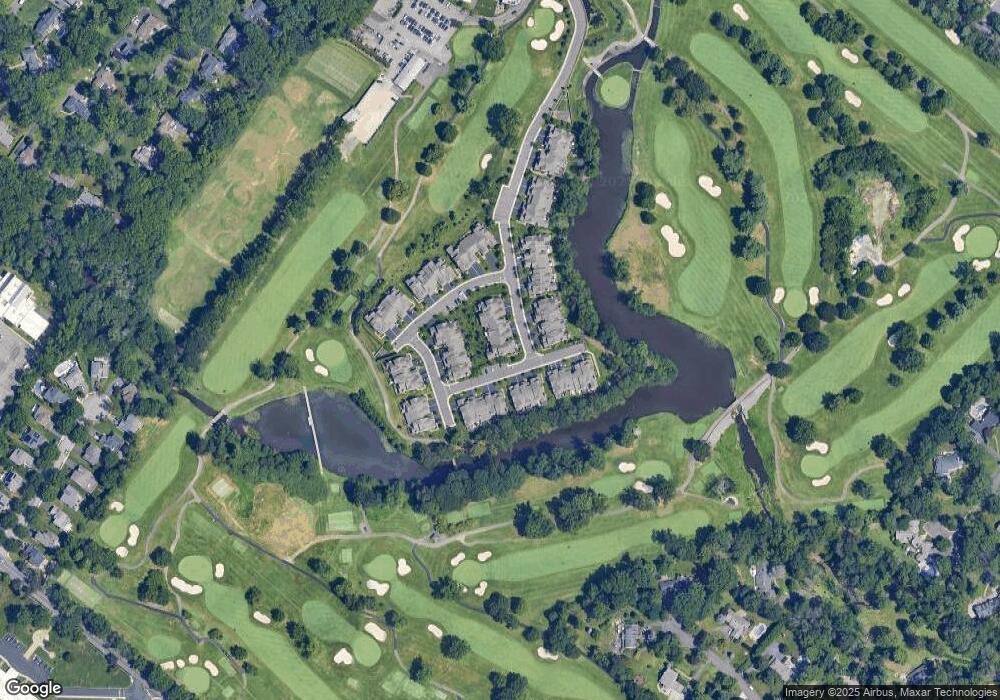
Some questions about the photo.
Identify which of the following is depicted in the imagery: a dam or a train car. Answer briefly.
dam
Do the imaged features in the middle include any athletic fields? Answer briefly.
No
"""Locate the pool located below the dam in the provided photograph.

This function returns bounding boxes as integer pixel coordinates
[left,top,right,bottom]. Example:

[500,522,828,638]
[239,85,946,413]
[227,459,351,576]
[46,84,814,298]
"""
[751,624,767,640]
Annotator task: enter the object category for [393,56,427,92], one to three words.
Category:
barn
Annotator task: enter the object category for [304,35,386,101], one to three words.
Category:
sports field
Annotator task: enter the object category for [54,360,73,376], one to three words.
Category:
swimming pool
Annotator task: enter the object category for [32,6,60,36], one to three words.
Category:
house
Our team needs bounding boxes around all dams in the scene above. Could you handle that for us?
[703,374,771,448]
